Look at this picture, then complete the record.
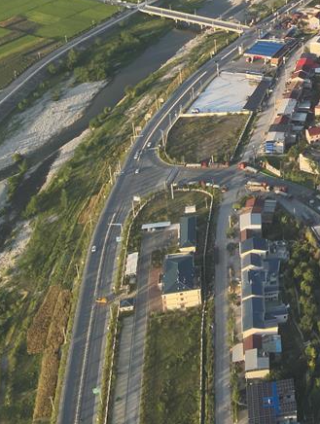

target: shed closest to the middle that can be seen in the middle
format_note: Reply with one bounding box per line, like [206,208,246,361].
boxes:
[141,214,171,231]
